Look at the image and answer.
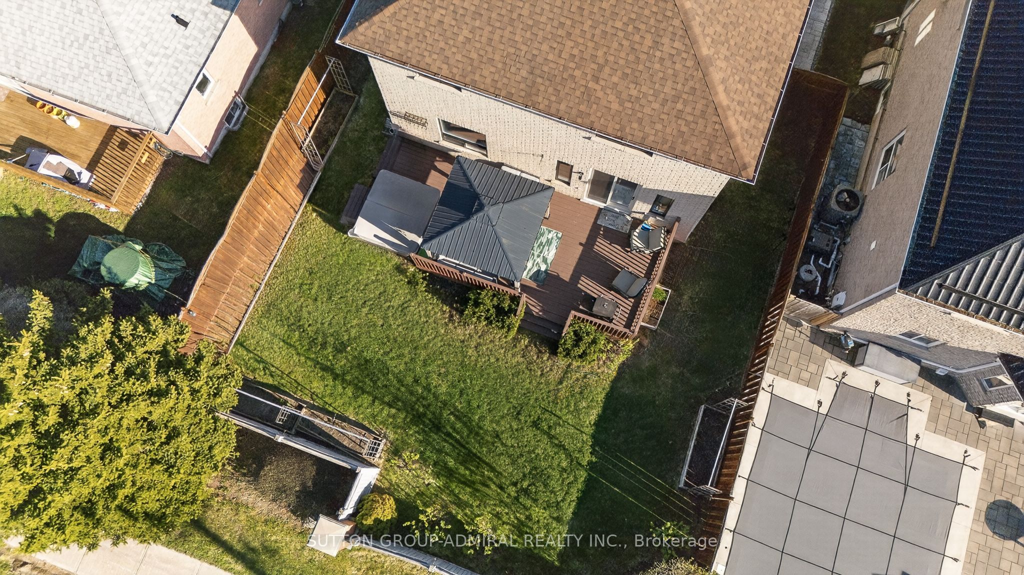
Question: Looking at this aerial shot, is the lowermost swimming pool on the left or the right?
right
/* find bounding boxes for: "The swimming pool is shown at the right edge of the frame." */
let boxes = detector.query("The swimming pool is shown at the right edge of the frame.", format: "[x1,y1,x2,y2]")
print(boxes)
[702,359,986,575]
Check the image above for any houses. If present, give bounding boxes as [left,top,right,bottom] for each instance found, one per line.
[806,0,1024,438]
[0,0,299,163]
[333,0,811,243]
